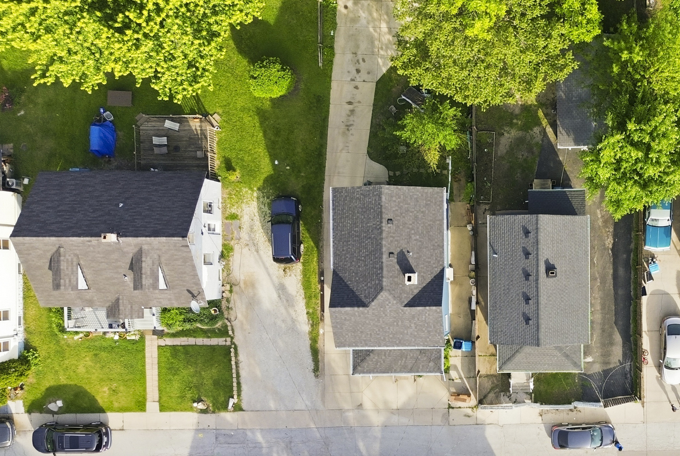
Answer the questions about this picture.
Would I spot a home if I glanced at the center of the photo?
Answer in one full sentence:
Yes, there is a home at the center of the photo.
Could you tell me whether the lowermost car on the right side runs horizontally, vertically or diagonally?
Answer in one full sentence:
The lowermost car on the right side has been laid out horizontally relative to the frame.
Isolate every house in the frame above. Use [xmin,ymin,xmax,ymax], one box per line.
[327,156,455,380]
[6,171,222,333]
[487,184,592,393]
